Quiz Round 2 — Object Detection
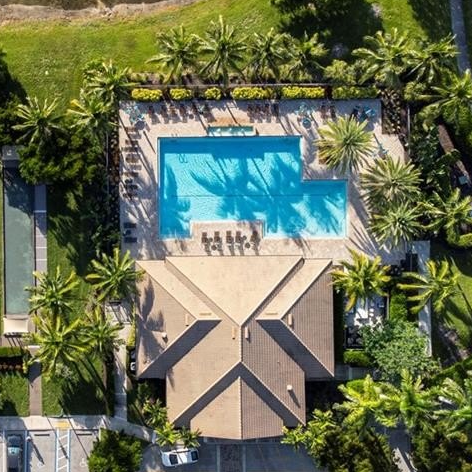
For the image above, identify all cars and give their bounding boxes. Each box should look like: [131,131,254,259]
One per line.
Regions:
[160,448,199,469]
[5,433,24,472]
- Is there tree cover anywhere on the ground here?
Yes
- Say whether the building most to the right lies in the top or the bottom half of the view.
bottom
